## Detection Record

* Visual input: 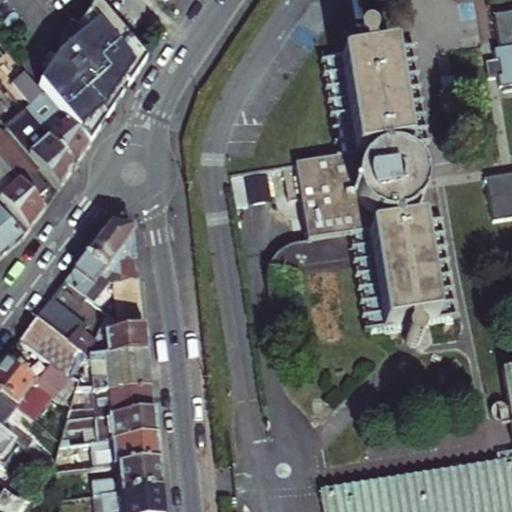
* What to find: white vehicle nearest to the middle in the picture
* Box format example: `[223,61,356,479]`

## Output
[186,334,198,360]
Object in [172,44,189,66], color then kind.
white car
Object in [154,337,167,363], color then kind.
white vehicle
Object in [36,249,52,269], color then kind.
white car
